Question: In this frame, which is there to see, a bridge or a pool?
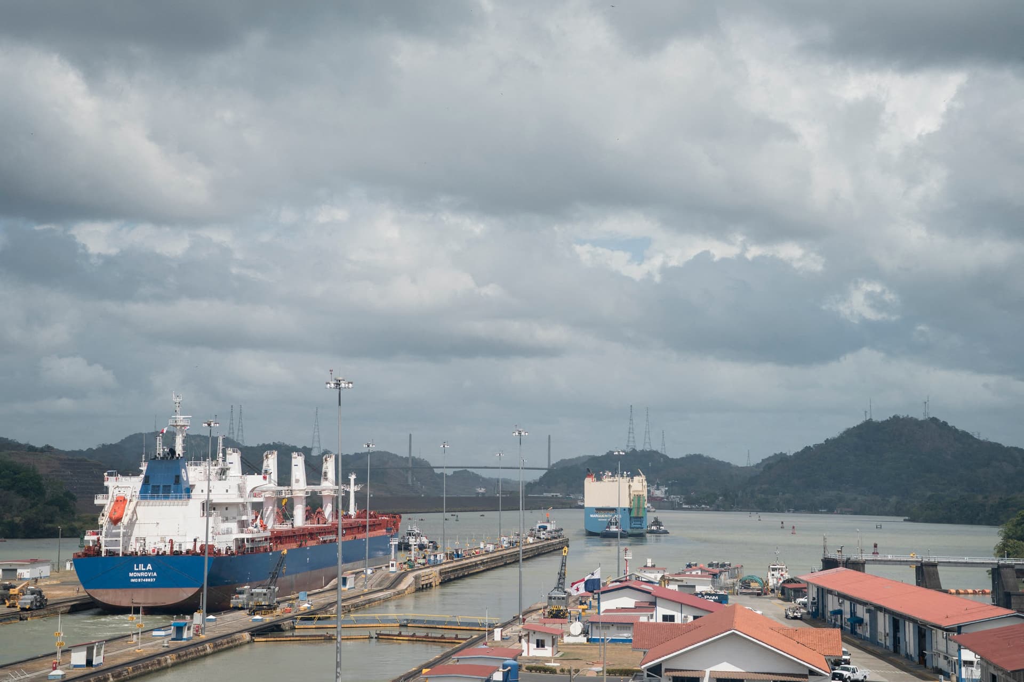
bridge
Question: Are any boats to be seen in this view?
Yes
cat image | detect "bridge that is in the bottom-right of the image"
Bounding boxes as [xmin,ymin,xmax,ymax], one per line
[820,529,1024,613]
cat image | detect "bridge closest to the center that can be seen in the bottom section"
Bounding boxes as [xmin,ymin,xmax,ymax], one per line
[336,438,555,495]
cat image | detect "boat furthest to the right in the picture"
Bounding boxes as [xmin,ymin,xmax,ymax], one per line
[770,549,791,589]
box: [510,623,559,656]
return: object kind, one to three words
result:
building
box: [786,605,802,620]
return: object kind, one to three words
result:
vehicle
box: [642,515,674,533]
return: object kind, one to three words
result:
boat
